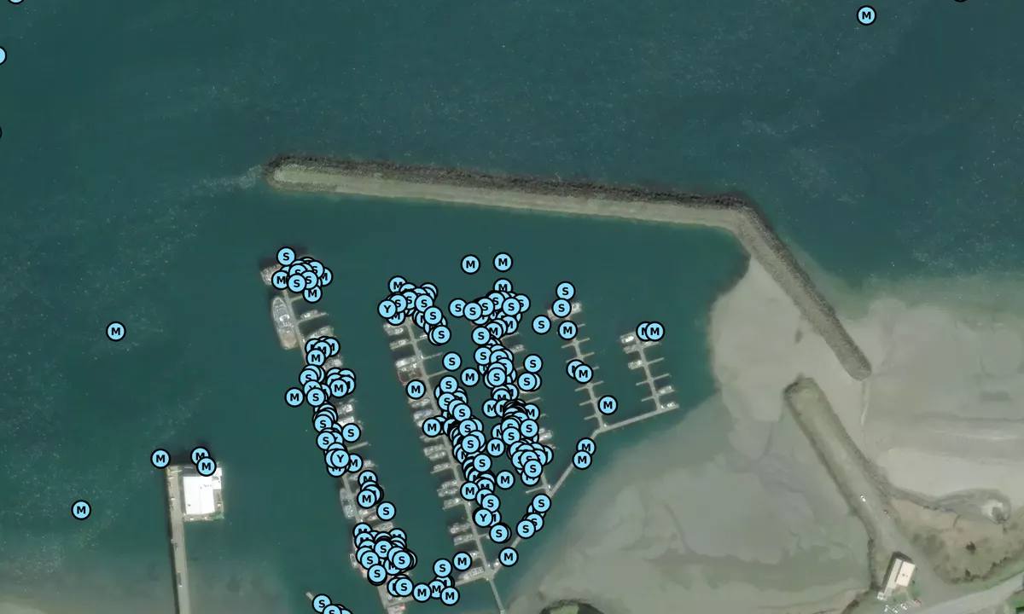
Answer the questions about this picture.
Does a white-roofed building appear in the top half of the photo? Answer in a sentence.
No, no white-roofed building can be made out in the top half of the photo.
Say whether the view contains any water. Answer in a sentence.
Yes, water can be seen from above here.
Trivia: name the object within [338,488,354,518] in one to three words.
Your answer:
boat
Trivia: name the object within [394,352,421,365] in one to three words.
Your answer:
boat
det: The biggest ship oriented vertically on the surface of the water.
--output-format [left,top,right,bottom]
[272,297,296,351]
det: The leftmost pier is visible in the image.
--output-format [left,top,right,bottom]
[166,466,224,614]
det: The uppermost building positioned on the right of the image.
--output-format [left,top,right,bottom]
[884,558,915,595]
